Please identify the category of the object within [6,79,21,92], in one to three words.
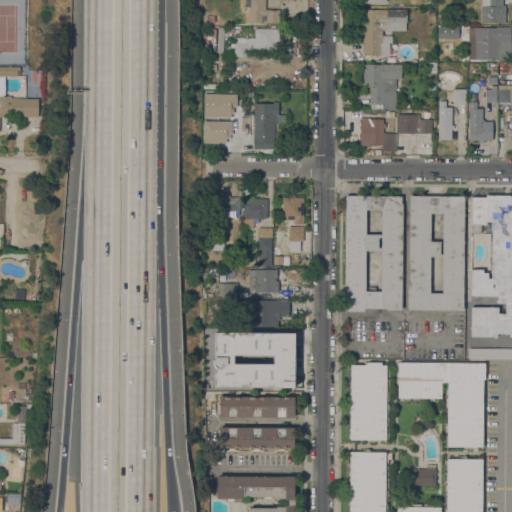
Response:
swimming pool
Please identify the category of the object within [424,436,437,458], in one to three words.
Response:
swimming pool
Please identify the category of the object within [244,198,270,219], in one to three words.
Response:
house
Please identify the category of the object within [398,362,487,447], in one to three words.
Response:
building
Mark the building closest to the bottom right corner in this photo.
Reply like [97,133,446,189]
[448,459,485,512]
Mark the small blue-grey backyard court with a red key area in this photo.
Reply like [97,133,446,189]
[23,67,41,98]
